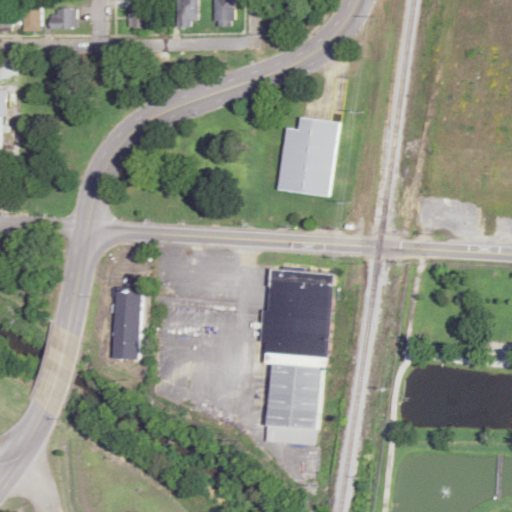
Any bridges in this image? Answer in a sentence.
Yes, looking at the shot, I can spot a bridge.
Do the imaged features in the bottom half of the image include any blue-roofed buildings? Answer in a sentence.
No, no blue-roofed building appears in the bottom half of the image.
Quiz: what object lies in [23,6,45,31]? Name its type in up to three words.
house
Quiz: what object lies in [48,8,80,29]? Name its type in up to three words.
house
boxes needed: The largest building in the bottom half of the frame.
[262,266,333,448]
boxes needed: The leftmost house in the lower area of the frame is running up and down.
[110,288,146,361]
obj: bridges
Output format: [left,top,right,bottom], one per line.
[22,321,85,426]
